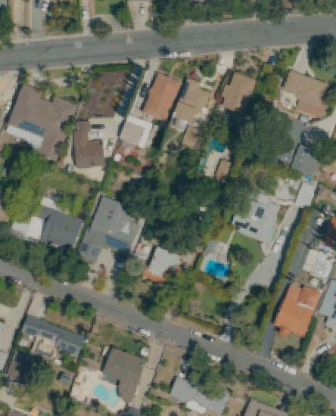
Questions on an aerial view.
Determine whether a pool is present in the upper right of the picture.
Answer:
No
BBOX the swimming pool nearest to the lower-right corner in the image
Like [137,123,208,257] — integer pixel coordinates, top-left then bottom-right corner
[202,258,231,280]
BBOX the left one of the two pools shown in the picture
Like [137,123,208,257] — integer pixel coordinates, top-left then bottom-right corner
[95,382,119,405]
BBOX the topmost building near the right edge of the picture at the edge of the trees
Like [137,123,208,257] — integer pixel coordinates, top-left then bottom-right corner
[286,72,331,116]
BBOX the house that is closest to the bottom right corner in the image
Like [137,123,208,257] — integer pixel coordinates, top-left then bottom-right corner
[243,394,296,416]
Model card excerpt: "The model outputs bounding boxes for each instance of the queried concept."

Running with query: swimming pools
[202,258,231,280]
[95,382,119,405]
